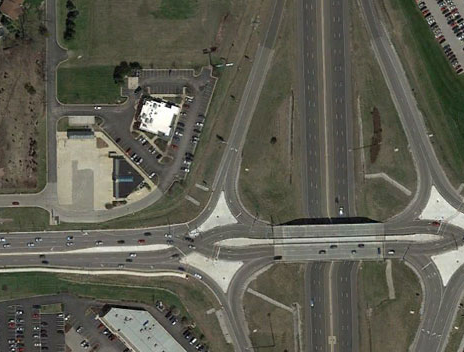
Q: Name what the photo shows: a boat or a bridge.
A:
bridge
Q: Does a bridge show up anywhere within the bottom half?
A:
Yes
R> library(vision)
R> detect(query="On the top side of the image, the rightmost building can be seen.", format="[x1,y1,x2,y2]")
[139,99,184,136]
